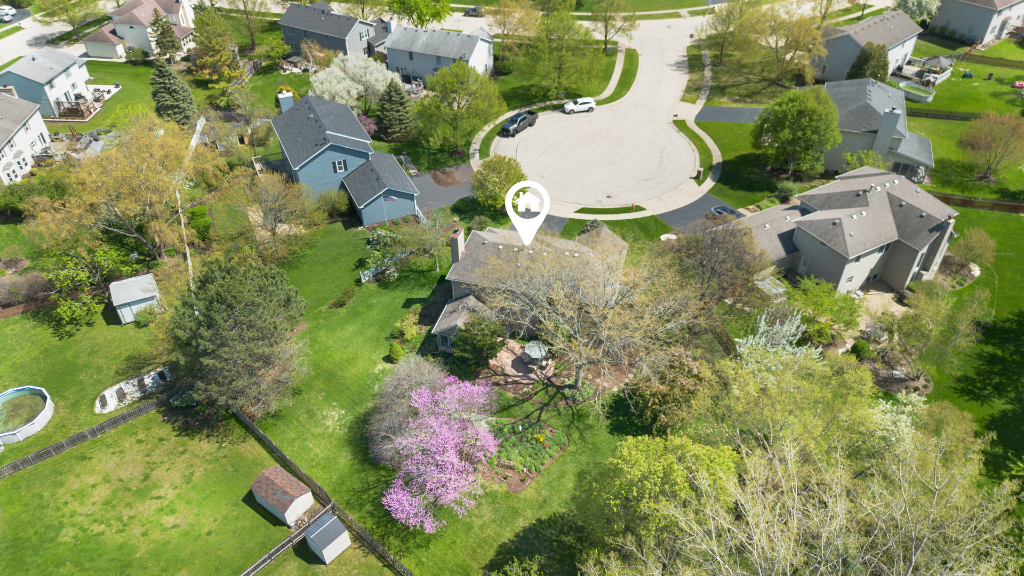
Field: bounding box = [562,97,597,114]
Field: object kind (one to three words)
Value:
car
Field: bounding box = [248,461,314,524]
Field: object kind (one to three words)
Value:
shed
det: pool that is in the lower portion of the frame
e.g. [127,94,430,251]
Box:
[0,386,57,446]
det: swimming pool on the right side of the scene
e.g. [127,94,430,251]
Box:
[892,83,942,104]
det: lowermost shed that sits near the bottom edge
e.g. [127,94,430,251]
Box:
[303,512,351,564]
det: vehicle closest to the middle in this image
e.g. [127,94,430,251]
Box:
[500,112,538,136]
